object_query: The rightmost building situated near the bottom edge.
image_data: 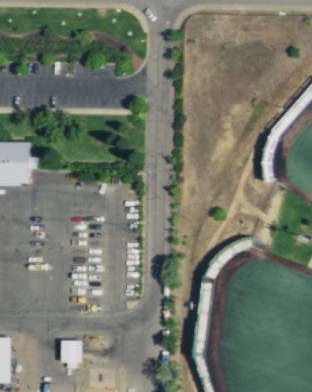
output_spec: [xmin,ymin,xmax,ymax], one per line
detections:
[62,340,84,376]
